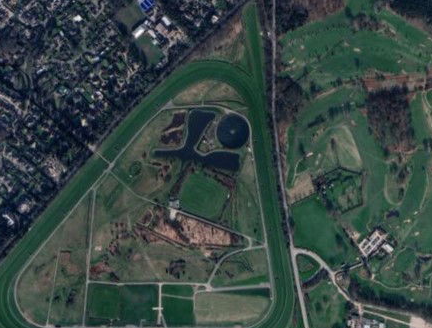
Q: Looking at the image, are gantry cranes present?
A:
No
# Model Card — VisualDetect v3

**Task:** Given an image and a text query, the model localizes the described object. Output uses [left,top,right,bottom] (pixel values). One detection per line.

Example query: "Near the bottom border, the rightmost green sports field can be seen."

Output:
[162,286,193,326]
